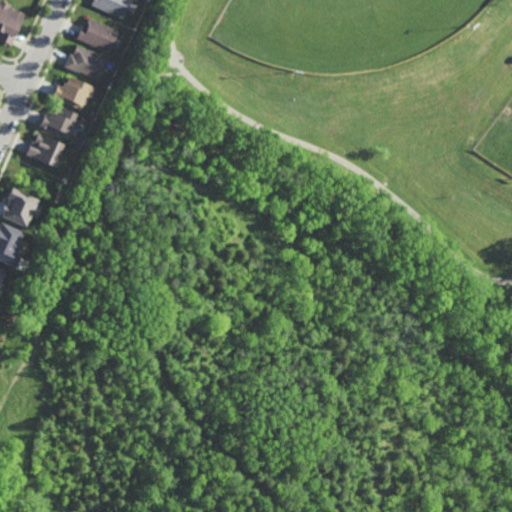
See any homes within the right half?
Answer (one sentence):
No, no home appears within the right half.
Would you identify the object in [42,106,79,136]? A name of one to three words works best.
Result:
house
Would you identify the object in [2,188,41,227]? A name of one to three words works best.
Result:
house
